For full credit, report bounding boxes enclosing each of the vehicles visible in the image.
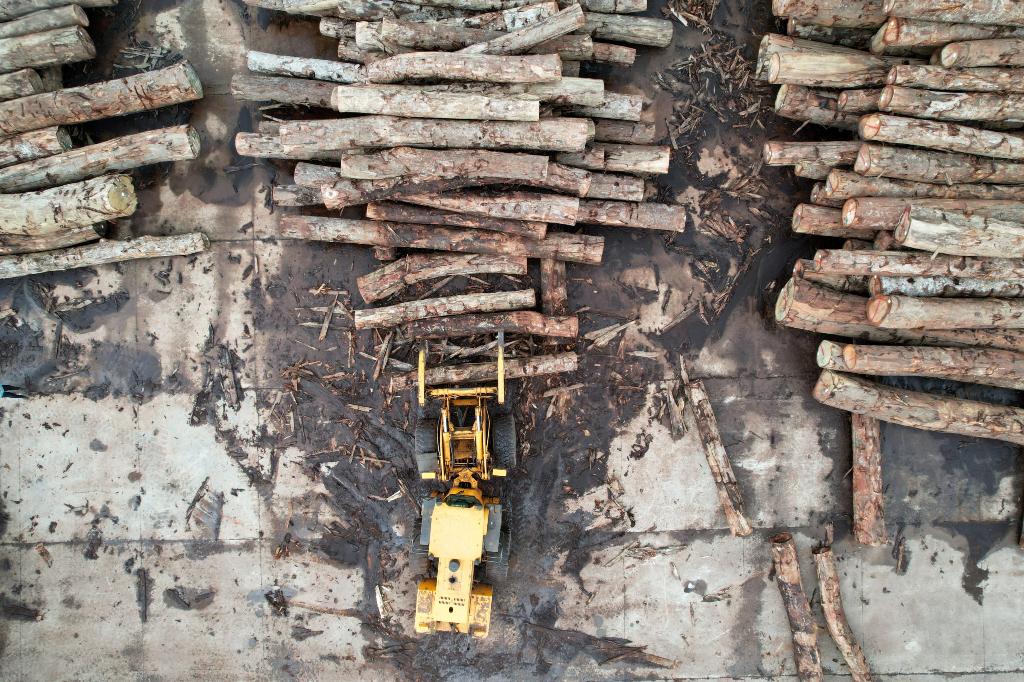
[406,331,517,654]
